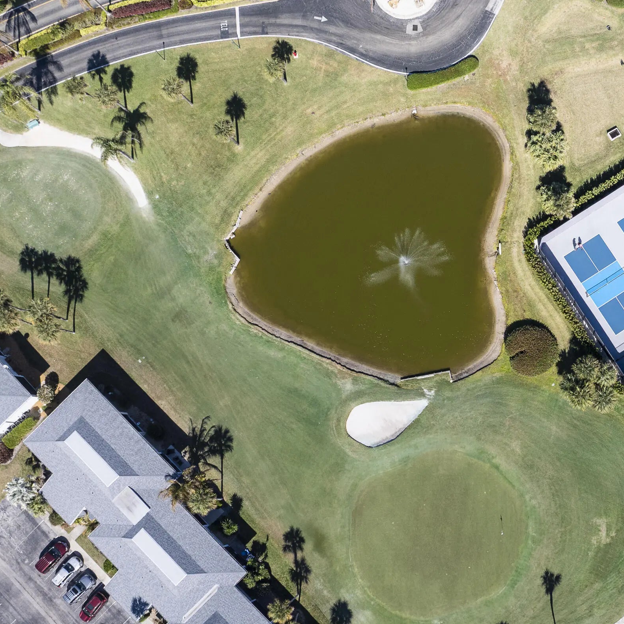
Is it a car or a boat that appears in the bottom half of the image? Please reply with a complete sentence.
You can see a car in the bottom half of the image.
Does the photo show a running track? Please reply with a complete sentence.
No, no running track can be seen from above.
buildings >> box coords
[0,333,53,438]
[24,379,283,624]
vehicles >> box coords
[61,573,97,607]
[49,556,84,589]
[32,541,70,575]
[79,590,110,623]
